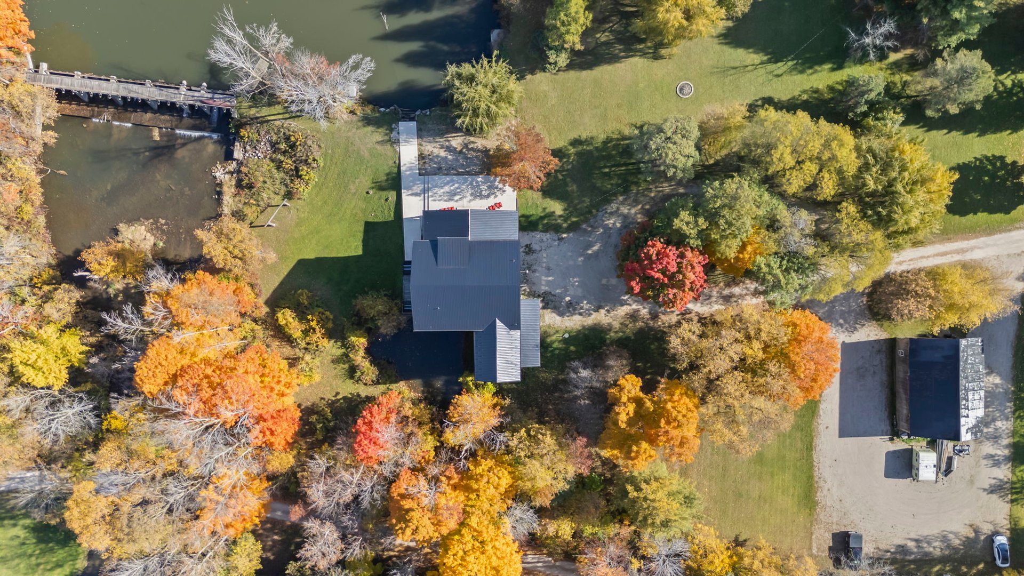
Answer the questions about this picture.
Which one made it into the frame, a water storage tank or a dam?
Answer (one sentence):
It is a dam that can be seen here.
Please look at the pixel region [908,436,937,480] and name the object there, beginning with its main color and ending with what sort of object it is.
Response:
white vehicle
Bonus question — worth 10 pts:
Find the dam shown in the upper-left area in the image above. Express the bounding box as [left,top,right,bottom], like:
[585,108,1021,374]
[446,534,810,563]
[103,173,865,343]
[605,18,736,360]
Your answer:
[24,65,243,158]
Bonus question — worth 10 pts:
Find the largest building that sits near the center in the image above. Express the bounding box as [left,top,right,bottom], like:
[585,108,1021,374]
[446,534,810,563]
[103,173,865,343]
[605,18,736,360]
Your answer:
[408,207,540,383]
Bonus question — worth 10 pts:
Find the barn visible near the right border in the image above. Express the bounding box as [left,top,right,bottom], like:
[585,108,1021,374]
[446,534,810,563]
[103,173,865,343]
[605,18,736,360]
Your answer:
[896,336,984,442]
